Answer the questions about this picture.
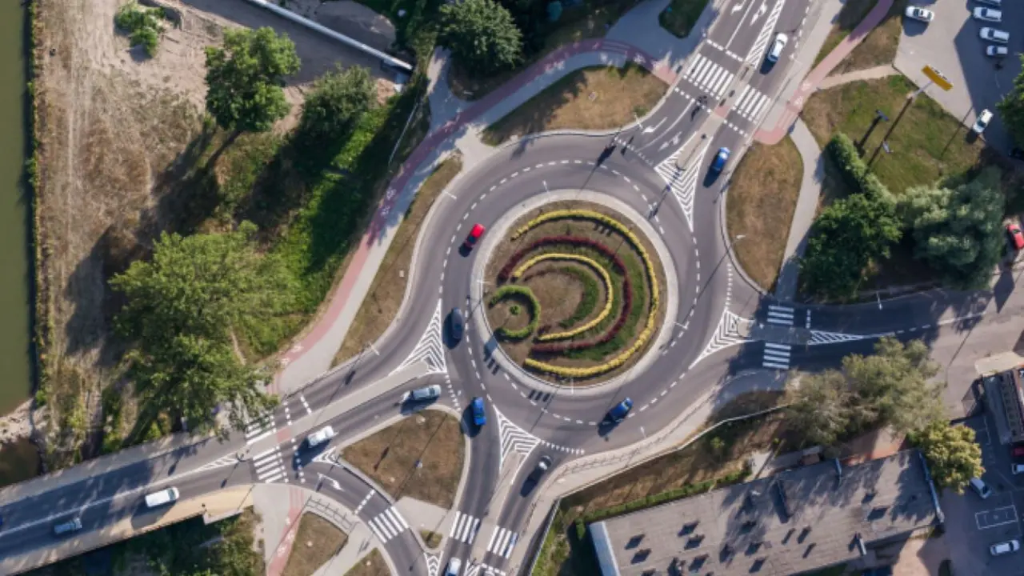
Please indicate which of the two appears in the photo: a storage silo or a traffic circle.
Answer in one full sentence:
There is a traffic circle in the scene.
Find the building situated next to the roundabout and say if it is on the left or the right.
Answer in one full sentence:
The building situated next to the roundabout appears in the right half of the scene.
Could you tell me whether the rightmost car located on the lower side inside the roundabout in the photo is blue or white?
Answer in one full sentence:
The rightmost car located on the lower side inside the roundabout looks blue in the image.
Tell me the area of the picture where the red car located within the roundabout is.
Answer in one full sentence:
Look in the center portion of the view to spot the red car located within the roundabout.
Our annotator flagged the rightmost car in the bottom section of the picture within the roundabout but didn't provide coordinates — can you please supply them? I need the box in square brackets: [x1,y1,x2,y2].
[609,396,635,425]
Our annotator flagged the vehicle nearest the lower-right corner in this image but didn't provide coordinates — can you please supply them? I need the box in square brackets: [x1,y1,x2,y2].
[988,538,1021,556]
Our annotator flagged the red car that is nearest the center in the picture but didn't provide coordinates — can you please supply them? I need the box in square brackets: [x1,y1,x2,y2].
[464,222,485,250]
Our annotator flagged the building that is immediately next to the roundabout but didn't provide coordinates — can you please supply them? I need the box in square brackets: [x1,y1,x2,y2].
[590,448,947,576]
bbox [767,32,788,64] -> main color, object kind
white car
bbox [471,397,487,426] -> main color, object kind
blue car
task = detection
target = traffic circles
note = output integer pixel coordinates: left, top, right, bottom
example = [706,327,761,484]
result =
[410,133,740,458]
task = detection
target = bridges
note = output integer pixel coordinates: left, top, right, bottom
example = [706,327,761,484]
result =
[0,411,254,576]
